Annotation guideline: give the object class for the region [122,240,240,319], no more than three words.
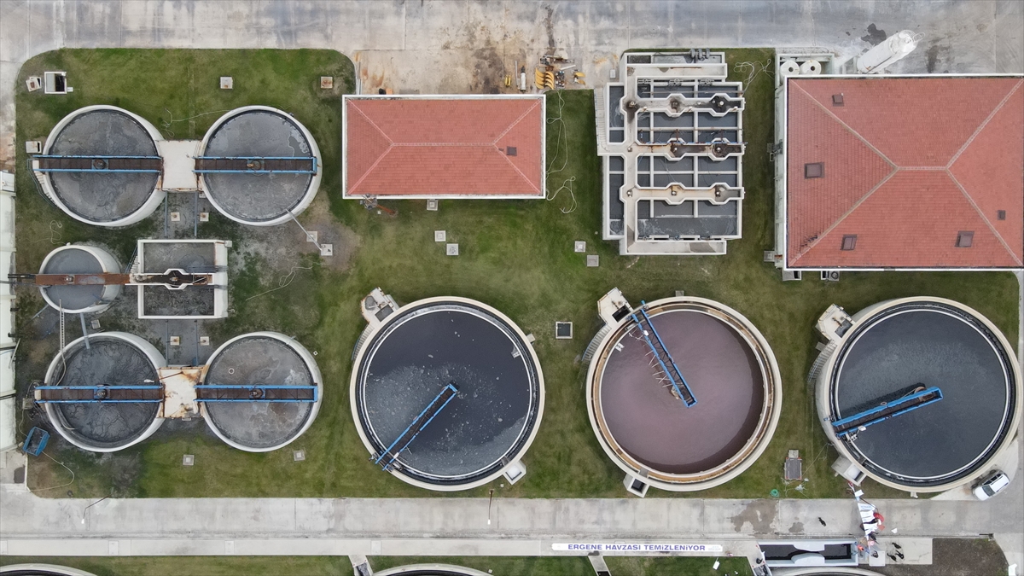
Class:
storage tank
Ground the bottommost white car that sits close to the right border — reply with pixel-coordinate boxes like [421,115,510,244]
[975,471,1016,502]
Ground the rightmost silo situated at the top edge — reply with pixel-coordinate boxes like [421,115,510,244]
[842,26,930,75]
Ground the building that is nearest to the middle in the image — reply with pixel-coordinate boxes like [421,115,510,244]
[343,95,546,200]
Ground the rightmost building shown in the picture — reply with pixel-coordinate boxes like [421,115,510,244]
[767,75,1024,270]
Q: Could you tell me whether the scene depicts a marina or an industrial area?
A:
industrial area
